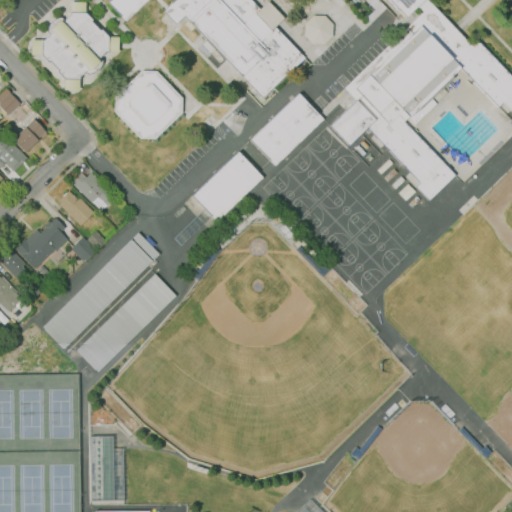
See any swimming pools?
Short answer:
Yes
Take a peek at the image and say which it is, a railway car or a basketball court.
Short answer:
basketball court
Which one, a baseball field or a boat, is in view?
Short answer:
baseball field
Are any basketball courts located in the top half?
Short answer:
Yes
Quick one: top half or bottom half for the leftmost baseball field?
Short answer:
bottom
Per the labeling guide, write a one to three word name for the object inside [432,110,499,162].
swimming pool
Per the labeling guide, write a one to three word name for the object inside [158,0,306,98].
building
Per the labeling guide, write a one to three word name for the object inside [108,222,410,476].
baseball field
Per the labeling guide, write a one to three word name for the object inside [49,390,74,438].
tennis court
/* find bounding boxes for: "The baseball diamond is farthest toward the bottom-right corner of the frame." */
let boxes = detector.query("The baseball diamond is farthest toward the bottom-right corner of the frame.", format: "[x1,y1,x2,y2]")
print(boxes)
[326,402,512,512]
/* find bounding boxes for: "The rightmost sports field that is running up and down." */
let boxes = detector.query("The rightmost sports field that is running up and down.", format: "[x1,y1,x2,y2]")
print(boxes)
[383,168,512,448]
